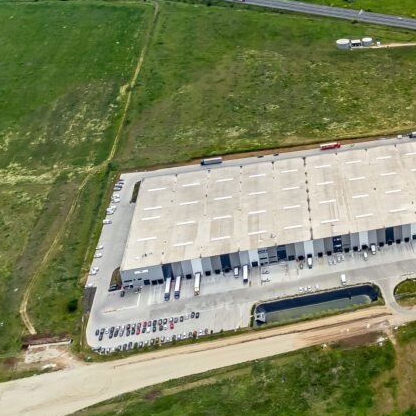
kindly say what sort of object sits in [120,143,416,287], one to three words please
warehouse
